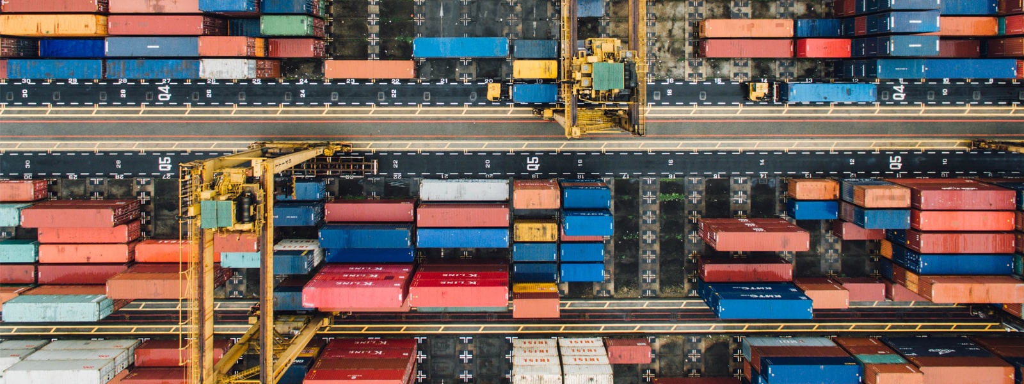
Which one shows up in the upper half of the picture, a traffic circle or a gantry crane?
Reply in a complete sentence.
Looking in the upper half of the picture, you will find a gantry crane.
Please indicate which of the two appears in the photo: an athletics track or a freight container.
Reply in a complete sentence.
Looking from above, you can make out a freight container.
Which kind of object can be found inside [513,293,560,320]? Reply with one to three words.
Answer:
shipping container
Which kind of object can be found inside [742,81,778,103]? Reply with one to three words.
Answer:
truck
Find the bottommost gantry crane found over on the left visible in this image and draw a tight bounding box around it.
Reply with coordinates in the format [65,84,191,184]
[173,141,349,384]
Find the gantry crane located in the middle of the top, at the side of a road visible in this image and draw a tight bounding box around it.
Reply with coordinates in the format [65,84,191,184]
[530,0,649,139]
